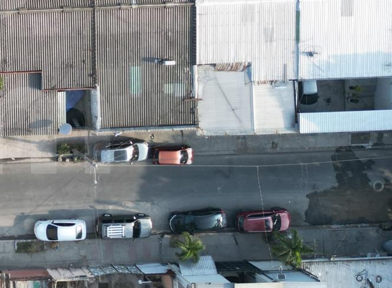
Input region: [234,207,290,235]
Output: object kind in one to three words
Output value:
car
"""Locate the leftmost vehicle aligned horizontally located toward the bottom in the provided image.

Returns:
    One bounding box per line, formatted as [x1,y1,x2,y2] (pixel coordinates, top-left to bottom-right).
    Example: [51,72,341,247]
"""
[34,218,87,244]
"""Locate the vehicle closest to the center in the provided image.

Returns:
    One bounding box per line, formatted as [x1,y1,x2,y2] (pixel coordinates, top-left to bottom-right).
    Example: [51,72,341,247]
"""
[151,145,192,168]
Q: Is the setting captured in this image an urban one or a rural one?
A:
urban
